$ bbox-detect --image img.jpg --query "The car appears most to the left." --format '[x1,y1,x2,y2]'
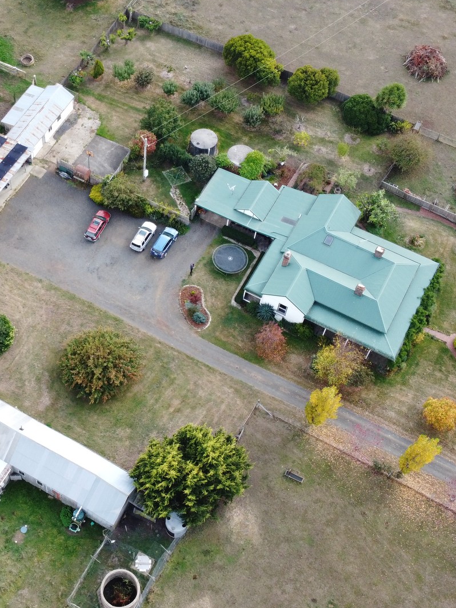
[85,210,109,242]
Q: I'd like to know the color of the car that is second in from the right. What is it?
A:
white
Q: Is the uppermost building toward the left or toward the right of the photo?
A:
left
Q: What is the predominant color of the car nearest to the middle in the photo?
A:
blue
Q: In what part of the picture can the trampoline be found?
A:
center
